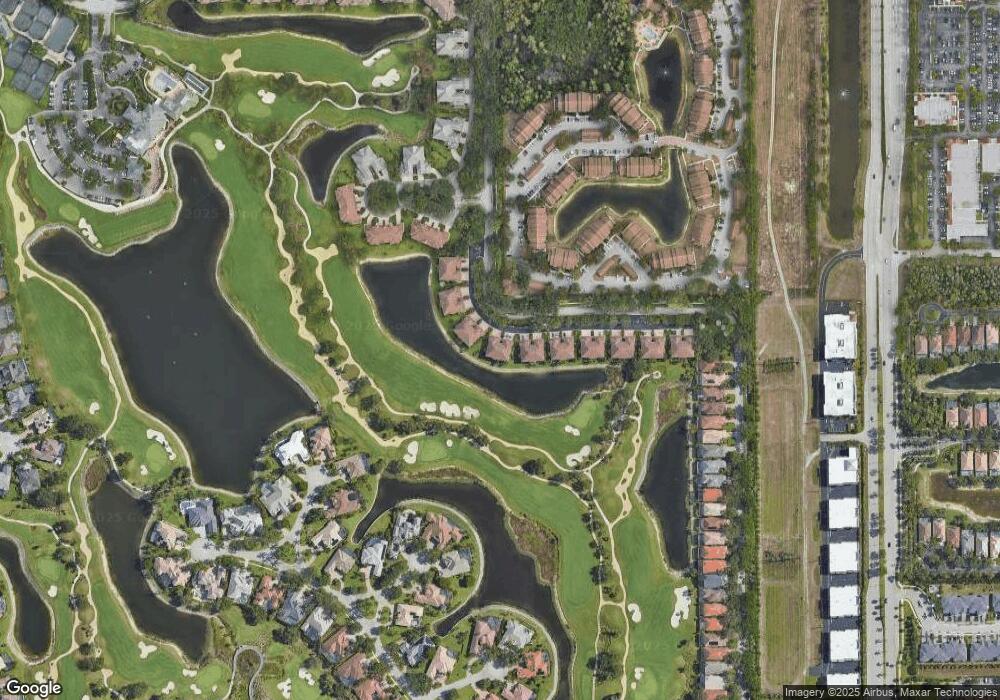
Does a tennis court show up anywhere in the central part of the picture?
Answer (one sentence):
No, there is no tennis court in the central part of the picture.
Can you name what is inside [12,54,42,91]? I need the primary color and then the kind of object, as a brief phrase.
gray tennis court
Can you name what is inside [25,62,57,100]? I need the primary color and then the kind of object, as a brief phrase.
gray tennis court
